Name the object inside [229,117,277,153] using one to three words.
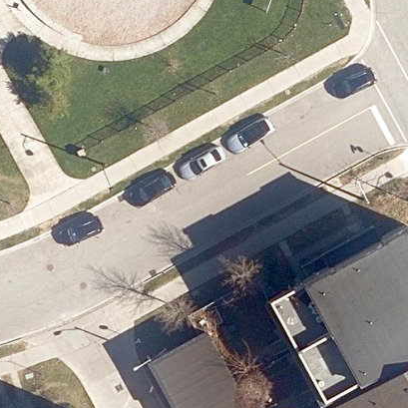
car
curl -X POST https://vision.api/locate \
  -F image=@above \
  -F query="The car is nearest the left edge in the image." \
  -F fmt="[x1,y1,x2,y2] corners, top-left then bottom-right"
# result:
[57,213,105,248]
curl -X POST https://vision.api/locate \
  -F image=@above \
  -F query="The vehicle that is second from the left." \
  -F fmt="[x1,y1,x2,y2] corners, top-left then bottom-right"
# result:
[130,172,178,208]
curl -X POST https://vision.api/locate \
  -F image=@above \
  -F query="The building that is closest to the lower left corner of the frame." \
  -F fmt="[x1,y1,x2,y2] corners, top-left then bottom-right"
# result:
[147,330,247,408]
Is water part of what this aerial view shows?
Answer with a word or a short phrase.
No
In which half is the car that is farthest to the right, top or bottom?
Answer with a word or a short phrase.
top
